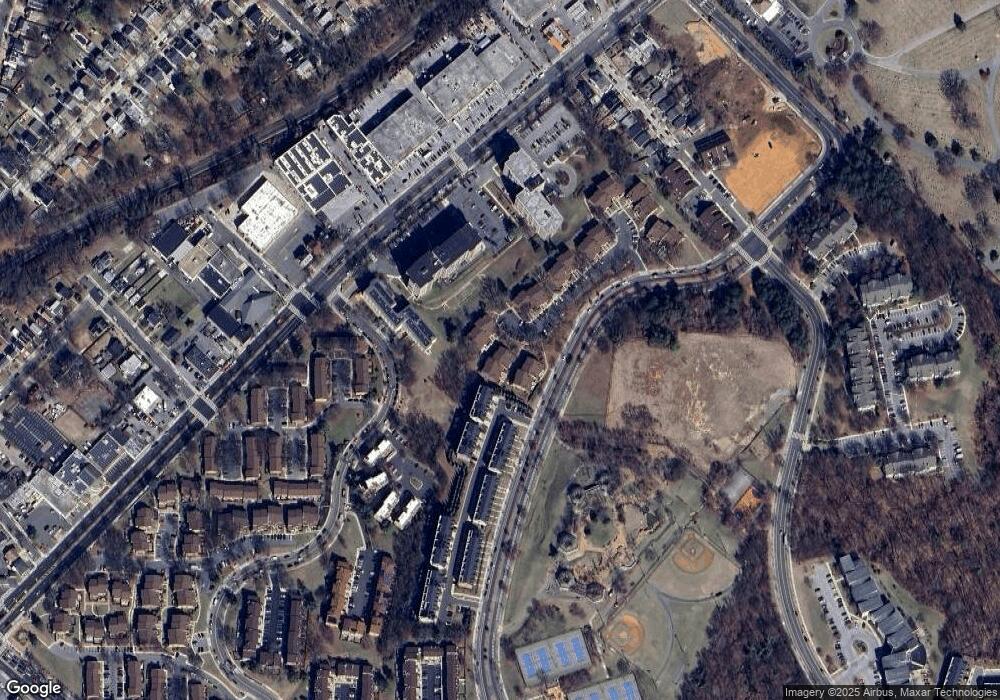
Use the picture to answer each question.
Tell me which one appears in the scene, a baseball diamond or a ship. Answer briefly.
baseball diamond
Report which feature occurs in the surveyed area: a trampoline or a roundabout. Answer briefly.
roundabout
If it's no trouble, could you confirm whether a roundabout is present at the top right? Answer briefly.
Yes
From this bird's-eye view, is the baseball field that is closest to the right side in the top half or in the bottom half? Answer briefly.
bottom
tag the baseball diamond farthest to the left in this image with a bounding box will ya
[598,587,674,687]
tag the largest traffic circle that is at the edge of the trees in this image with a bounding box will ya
[808,20,860,69]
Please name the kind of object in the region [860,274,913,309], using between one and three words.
building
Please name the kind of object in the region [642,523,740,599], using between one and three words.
baseball field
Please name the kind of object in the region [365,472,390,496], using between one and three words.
house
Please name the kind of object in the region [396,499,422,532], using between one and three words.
house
